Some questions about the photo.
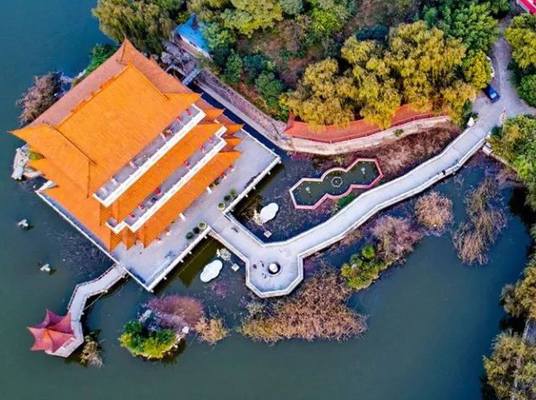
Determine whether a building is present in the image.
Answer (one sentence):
Yes, you can see a building in this photo.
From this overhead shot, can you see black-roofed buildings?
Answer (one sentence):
No, I can see no black-roofed building in this picture.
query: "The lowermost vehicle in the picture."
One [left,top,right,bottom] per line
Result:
[485,84,499,102]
